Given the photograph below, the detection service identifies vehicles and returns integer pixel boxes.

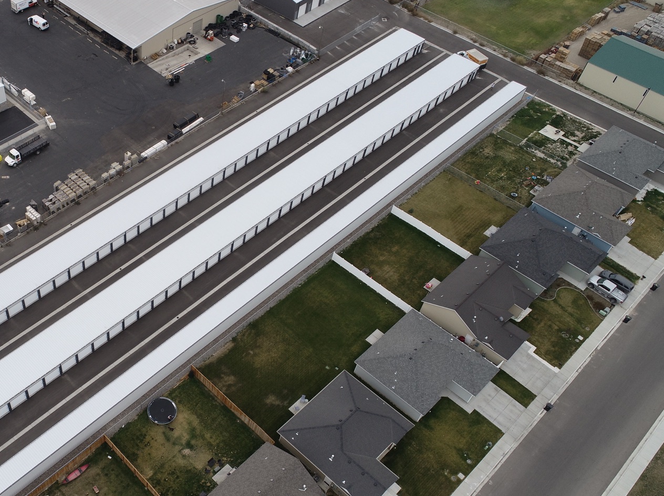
[203,29,214,42]
[4,136,54,169]
[583,278,631,308]
[10,0,40,12]
[454,45,491,71]
[29,15,49,30]
[597,271,636,296]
